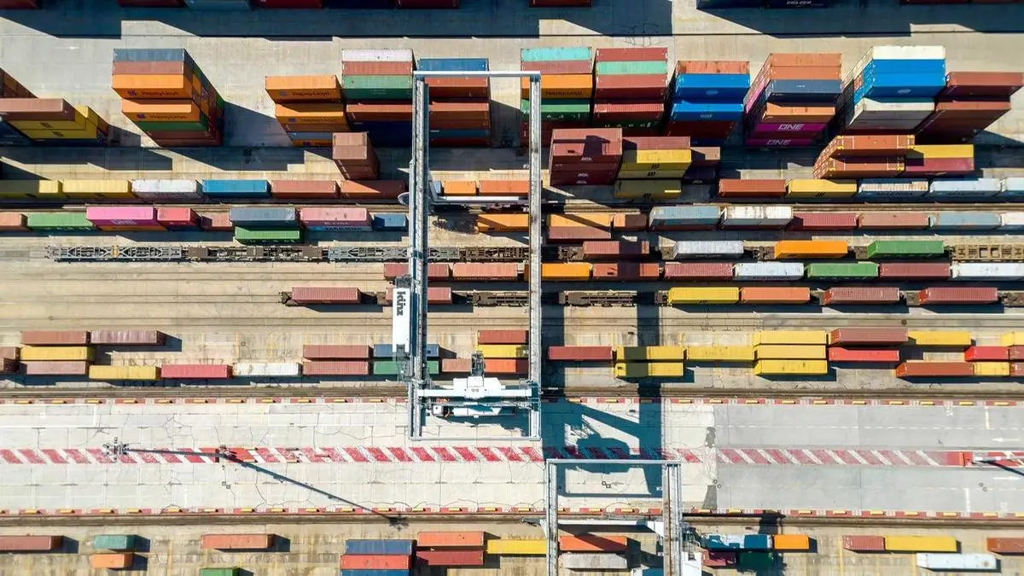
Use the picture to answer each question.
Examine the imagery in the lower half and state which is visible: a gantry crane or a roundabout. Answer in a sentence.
The feature located in the lower half is a gantry crane.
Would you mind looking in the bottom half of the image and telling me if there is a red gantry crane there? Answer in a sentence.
No, there is no red gantry crane in the bottom half of the image.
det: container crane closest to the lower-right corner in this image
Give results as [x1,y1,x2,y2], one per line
[534,460,701,576]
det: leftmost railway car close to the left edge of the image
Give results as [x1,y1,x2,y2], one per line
[46,246,183,260]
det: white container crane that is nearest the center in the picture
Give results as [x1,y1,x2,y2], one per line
[392,70,543,441]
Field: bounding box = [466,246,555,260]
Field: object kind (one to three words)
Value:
rail car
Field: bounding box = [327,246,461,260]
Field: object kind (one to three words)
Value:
rail car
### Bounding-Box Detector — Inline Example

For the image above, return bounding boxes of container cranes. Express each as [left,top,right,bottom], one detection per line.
[392,70,543,441]
[534,460,701,576]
